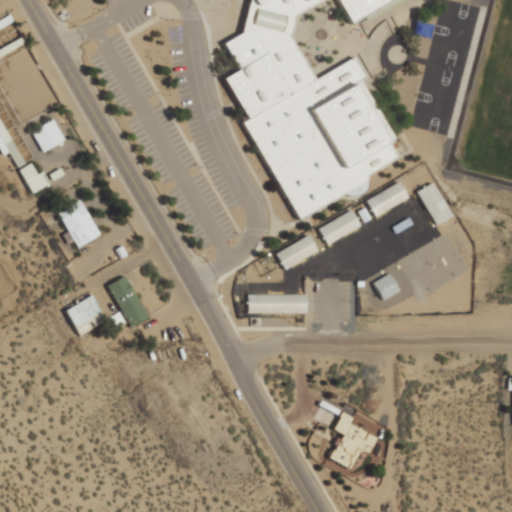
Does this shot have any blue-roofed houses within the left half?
No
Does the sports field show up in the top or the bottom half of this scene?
top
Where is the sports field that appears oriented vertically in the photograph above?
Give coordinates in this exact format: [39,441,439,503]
[464,0,512,180]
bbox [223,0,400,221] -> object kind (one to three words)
building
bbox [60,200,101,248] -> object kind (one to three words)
house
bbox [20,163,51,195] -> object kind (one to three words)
house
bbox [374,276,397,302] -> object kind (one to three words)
shed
